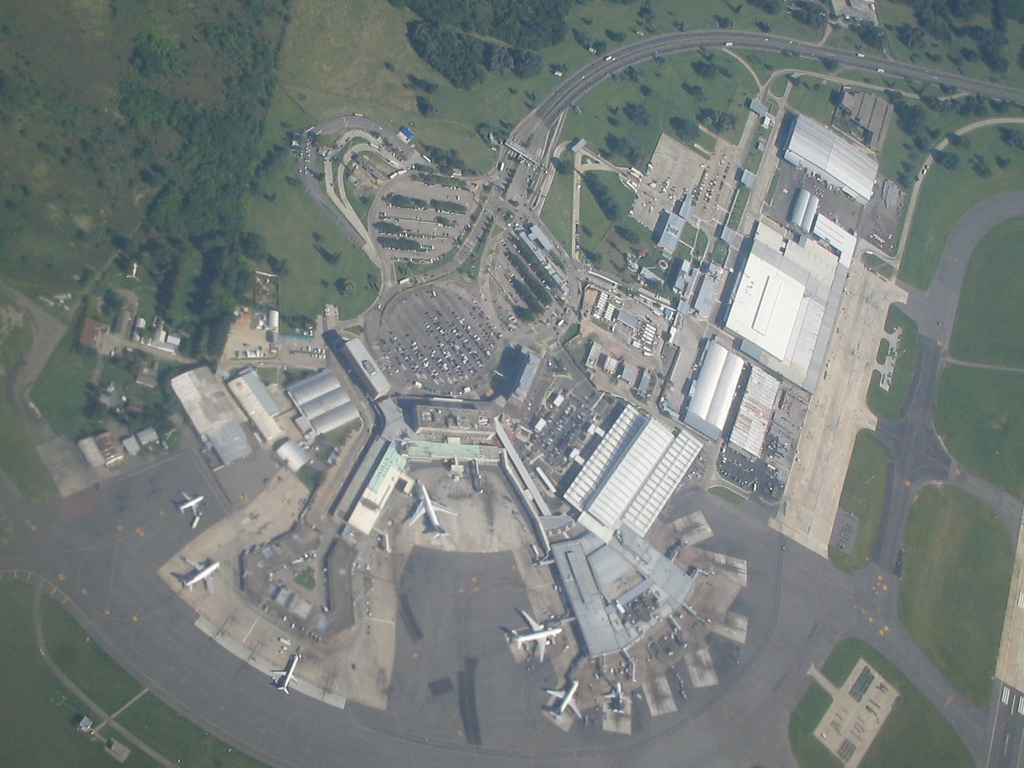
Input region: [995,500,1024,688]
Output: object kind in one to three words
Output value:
runway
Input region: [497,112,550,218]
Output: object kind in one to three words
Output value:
toll station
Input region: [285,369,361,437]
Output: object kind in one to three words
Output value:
hangar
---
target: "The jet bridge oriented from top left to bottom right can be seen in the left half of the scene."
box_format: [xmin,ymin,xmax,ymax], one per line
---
[369,525,391,555]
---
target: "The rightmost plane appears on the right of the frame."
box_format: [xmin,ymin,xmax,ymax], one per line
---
[606,684,630,711]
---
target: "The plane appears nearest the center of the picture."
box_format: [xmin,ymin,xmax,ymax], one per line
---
[411,480,457,535]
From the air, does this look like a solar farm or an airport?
airport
